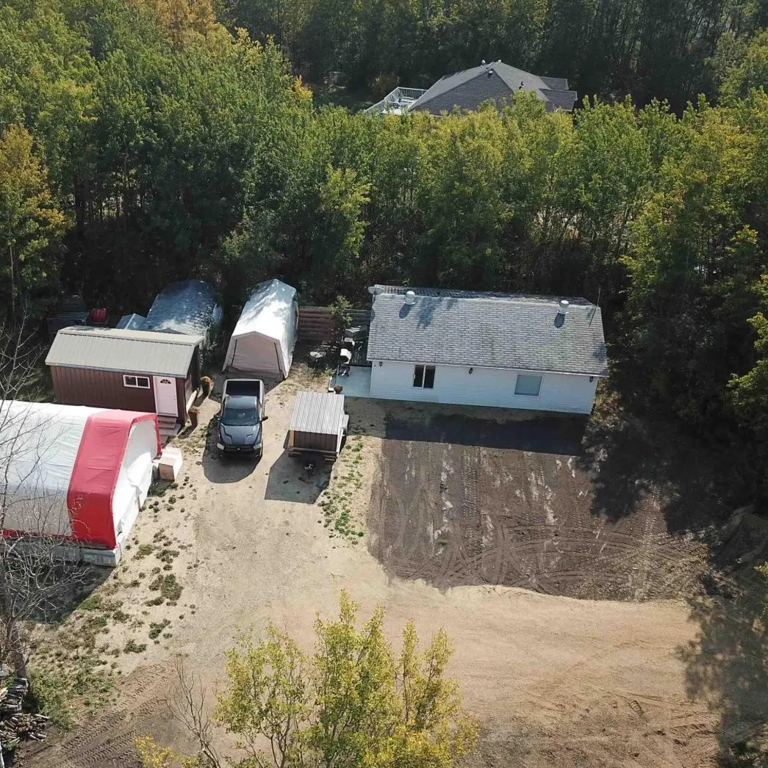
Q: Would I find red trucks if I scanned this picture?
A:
No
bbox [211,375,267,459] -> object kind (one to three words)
truck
